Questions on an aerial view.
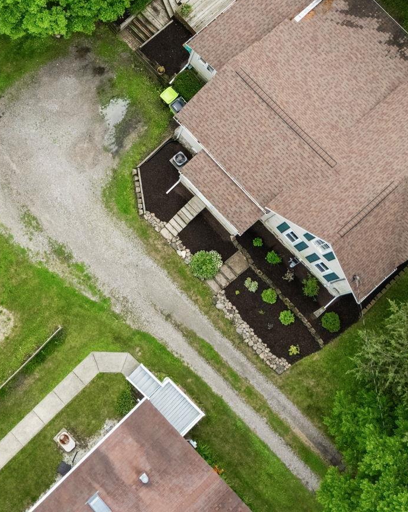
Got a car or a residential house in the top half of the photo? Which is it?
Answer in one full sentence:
The feature located in the top half of the photo is a residential house.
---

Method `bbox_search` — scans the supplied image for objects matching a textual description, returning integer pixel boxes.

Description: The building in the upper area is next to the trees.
[166,0,408,308]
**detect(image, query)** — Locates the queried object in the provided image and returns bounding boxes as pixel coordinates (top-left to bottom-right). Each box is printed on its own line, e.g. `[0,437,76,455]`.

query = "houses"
[166,0,408,308]
[30,397,252,512]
